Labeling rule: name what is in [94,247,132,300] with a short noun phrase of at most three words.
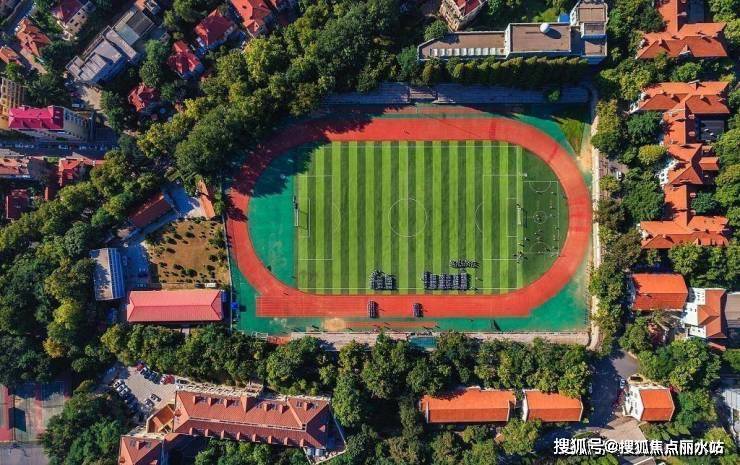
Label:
shed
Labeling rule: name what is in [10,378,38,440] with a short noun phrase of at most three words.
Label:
tennis court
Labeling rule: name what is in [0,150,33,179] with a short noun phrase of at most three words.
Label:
house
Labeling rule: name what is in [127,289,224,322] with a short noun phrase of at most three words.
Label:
building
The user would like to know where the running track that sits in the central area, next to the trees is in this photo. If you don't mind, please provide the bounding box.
[224,104,592,333]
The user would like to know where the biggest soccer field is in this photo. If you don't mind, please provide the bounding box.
[297,142,522,294]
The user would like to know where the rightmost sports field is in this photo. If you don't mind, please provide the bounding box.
[522,148,568,288]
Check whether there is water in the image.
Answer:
No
